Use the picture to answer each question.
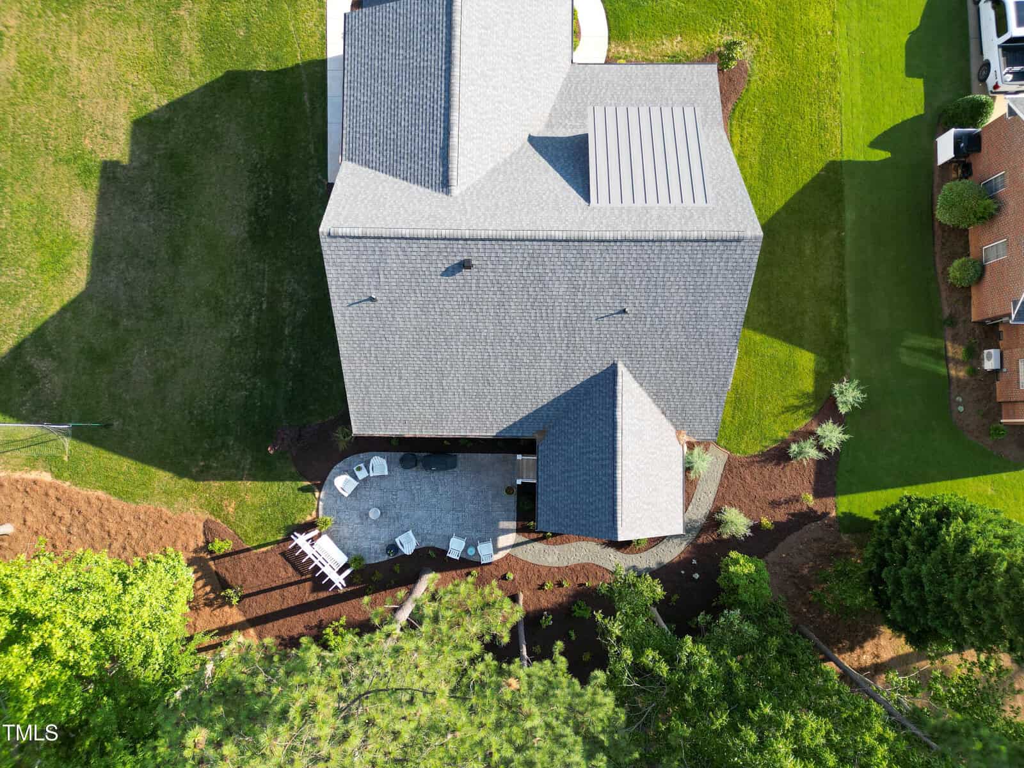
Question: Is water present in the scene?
No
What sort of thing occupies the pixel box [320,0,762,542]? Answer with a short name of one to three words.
house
